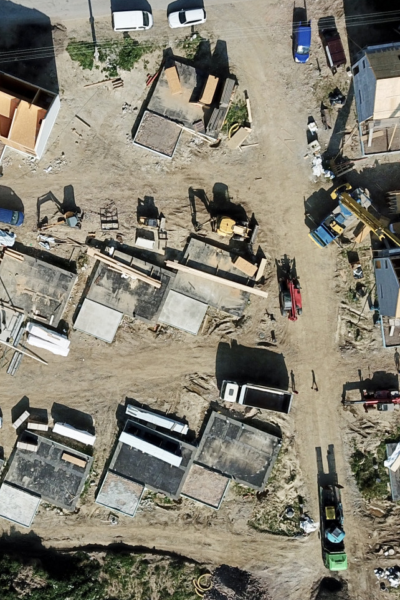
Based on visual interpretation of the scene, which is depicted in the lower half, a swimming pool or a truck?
truck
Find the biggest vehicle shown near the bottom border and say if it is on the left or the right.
right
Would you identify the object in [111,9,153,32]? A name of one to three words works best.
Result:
vehicle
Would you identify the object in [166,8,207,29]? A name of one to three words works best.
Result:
car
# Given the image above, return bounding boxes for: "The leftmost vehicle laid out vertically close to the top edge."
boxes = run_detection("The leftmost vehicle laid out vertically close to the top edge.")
[292,16,311,62]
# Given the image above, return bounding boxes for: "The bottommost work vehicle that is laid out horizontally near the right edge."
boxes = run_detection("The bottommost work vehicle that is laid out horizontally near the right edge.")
[340,390,400,411]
